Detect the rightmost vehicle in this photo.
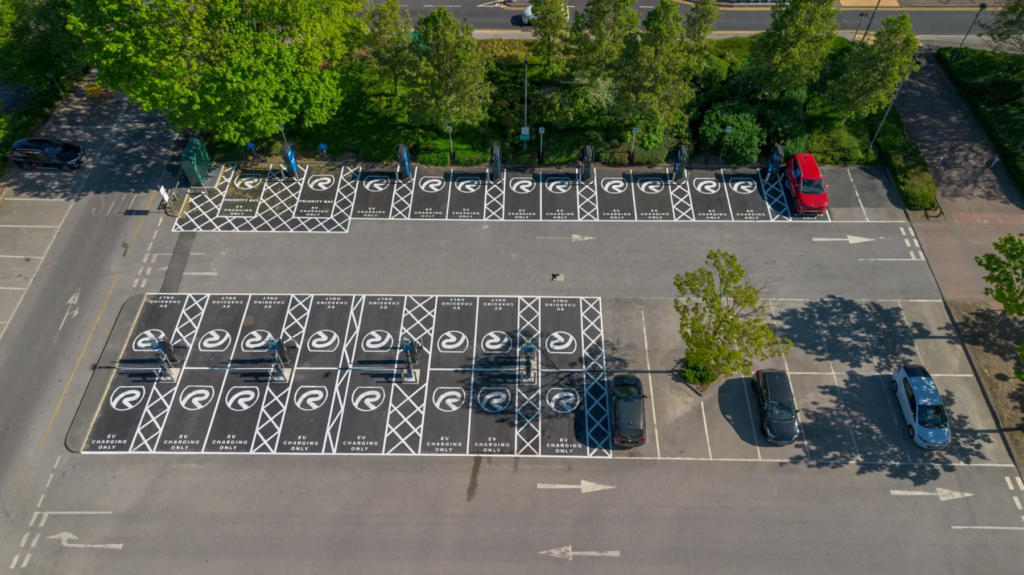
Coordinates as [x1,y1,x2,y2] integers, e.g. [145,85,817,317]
[896,369,961,450]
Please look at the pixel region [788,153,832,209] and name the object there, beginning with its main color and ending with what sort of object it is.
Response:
red car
